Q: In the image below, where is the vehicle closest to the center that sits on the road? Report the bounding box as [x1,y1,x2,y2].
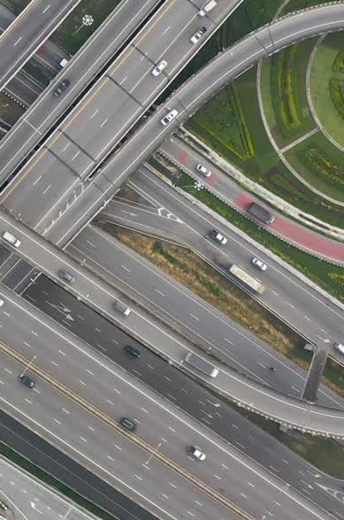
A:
[207,229,226,243]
